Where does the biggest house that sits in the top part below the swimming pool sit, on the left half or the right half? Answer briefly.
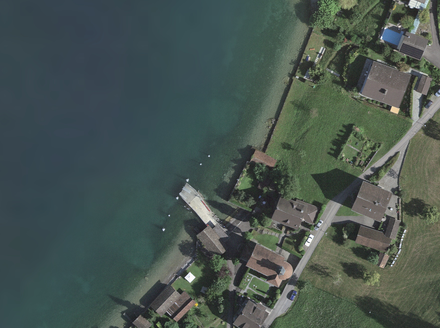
right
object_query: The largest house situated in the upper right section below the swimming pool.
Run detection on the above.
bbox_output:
[356,58,411,114]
